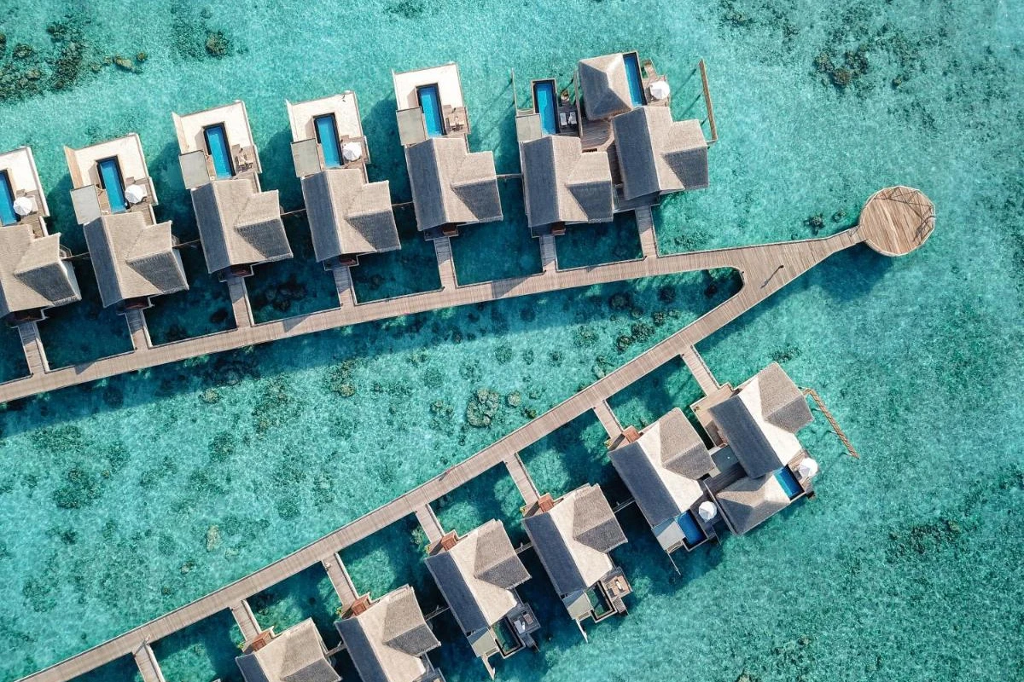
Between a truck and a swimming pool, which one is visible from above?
swimming pool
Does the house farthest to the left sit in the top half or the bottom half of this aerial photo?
top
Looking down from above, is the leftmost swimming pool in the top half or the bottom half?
top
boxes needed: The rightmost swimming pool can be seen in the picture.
[775,465,806,503]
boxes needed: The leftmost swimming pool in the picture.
[0,170,22,226]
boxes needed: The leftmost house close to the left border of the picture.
[0,146,91,329]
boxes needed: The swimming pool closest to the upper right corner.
[627,51,648,107]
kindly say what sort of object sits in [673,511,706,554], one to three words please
swimming pool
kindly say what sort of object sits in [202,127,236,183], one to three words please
swimming pool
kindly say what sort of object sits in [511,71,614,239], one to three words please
house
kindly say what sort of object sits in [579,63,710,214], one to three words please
house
